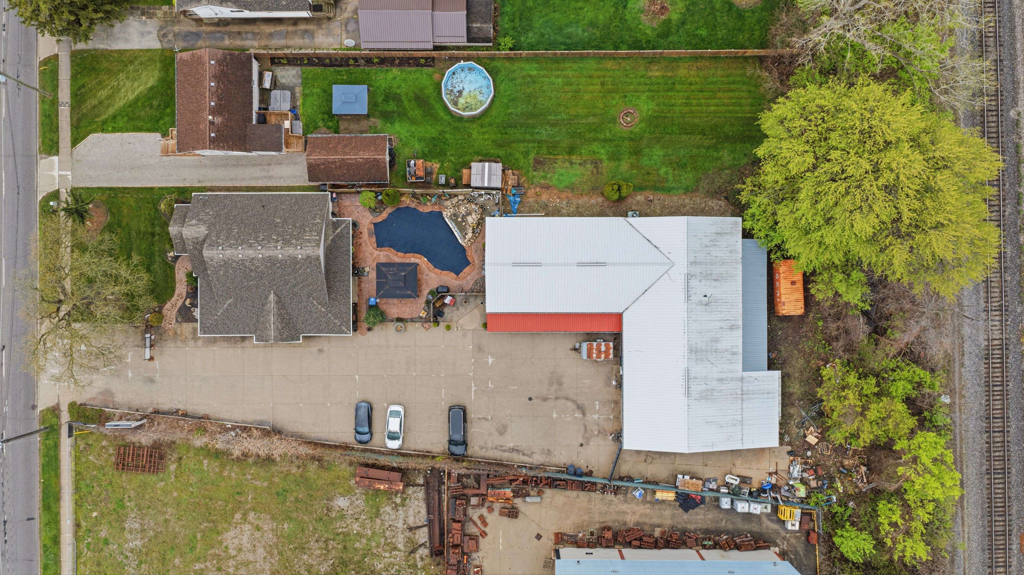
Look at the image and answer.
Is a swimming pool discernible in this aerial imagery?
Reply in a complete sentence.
Yes, this view includes a swimming pool.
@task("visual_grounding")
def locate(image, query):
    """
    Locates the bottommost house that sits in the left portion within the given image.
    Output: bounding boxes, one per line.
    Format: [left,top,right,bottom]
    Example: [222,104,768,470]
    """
[169,192,355,344]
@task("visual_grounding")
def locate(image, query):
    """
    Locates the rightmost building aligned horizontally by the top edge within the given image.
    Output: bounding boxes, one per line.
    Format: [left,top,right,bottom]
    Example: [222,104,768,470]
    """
[359,0,494,54]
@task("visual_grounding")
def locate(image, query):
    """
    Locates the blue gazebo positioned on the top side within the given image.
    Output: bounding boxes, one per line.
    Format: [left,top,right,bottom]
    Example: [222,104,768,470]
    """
[332,84,371,120]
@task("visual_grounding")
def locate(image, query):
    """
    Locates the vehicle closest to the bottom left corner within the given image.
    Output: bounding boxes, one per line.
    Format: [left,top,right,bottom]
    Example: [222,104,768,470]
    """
[353,401,374,443]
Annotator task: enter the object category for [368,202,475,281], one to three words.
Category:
swimming pool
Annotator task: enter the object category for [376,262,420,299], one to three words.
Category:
gazebo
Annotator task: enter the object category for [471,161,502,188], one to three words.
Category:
shed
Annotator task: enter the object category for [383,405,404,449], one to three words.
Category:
car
